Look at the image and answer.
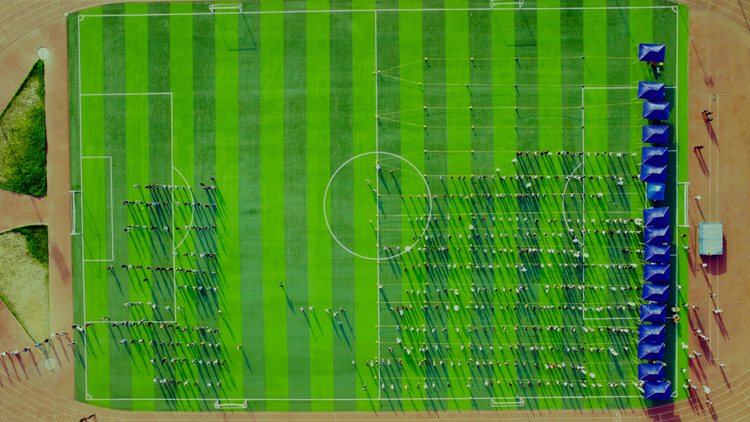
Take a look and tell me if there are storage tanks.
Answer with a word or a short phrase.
No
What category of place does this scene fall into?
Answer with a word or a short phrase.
sports ground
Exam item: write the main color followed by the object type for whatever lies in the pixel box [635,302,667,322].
blue tent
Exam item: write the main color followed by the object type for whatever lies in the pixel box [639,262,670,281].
blue tent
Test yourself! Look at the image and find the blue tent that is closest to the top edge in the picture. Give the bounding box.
[633,43,666,64]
